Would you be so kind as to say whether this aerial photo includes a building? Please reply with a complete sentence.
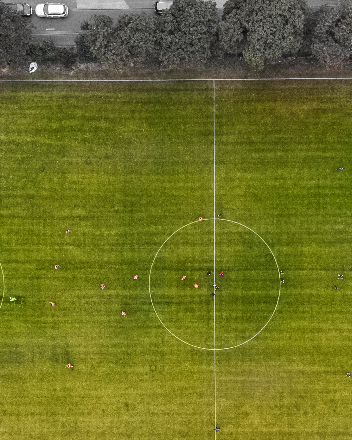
No, there is no building in the image.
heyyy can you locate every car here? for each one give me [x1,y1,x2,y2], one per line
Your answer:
[35,1,67,18]
[5,1,33,18]
[155,2,173,17]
